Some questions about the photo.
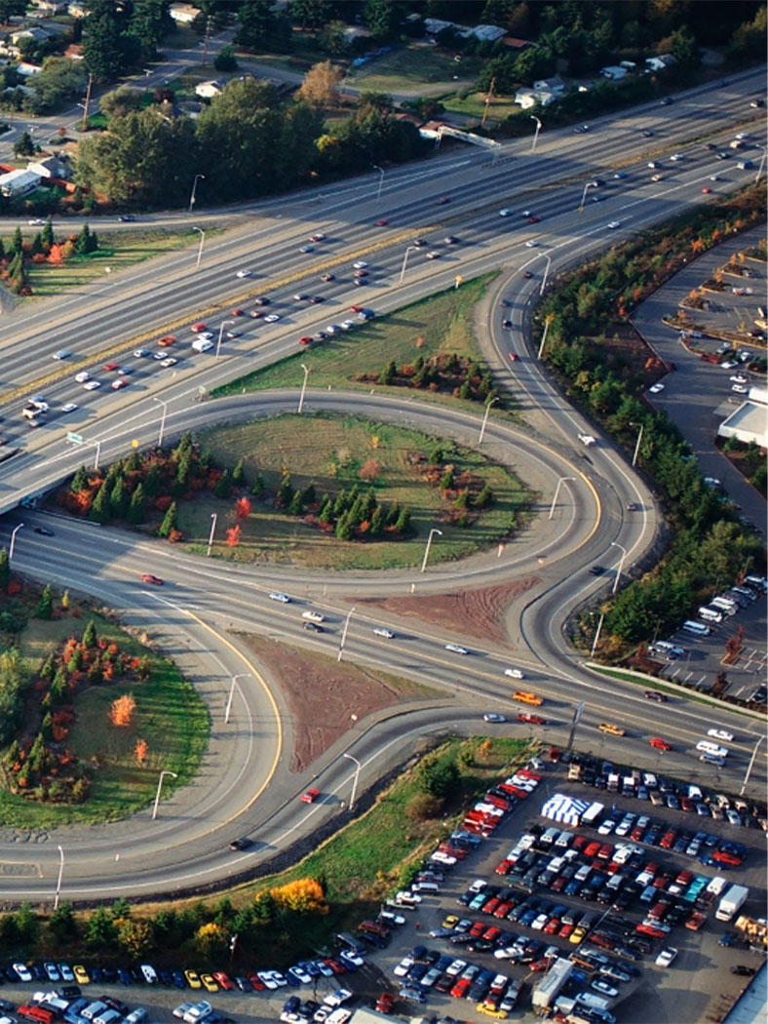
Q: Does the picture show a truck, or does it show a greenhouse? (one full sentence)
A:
Looking from above, you can make out a truck.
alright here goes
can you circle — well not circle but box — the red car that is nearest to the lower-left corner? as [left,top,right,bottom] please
[21,1007,49,1023]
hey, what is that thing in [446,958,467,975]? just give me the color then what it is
white car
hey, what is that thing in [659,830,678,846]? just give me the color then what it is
red car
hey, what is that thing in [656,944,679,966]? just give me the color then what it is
white truck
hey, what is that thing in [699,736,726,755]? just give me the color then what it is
white vehicle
